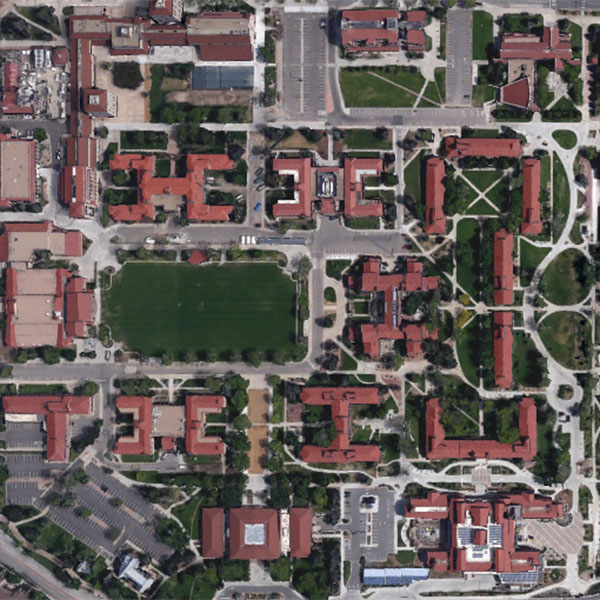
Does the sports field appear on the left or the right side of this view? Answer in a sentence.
You can find the sports field on the left side of the picture.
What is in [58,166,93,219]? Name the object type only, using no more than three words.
building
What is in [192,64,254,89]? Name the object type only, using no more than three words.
sports court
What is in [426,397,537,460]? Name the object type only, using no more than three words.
building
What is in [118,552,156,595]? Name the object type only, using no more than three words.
house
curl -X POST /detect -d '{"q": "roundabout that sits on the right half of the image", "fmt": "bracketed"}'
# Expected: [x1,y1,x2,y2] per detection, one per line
[546,366,584,415]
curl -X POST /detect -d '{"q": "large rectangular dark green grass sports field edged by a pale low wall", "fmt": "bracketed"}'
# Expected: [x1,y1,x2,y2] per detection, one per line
[101,261,299,360]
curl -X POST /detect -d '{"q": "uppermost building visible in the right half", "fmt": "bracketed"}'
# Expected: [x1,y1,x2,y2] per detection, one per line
[342,10,426,53]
